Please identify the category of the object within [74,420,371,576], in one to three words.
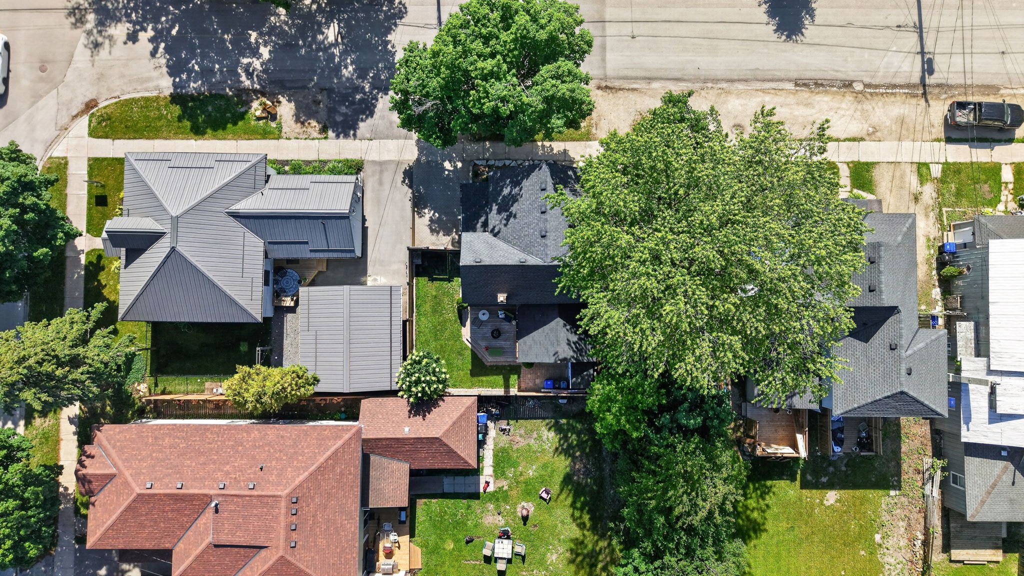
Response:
house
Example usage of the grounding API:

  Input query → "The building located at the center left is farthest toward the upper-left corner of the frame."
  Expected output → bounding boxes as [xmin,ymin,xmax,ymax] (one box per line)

[99,151,364,325]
